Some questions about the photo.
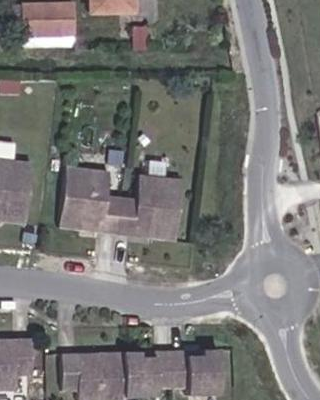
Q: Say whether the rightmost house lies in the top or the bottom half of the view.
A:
bottom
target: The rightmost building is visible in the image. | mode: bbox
[190,348,230,396]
